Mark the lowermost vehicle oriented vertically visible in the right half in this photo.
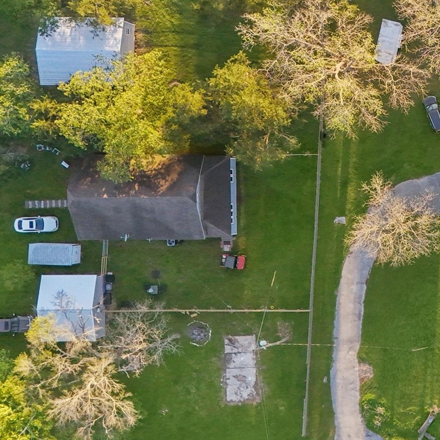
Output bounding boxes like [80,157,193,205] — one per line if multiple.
[421,94,440,136]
